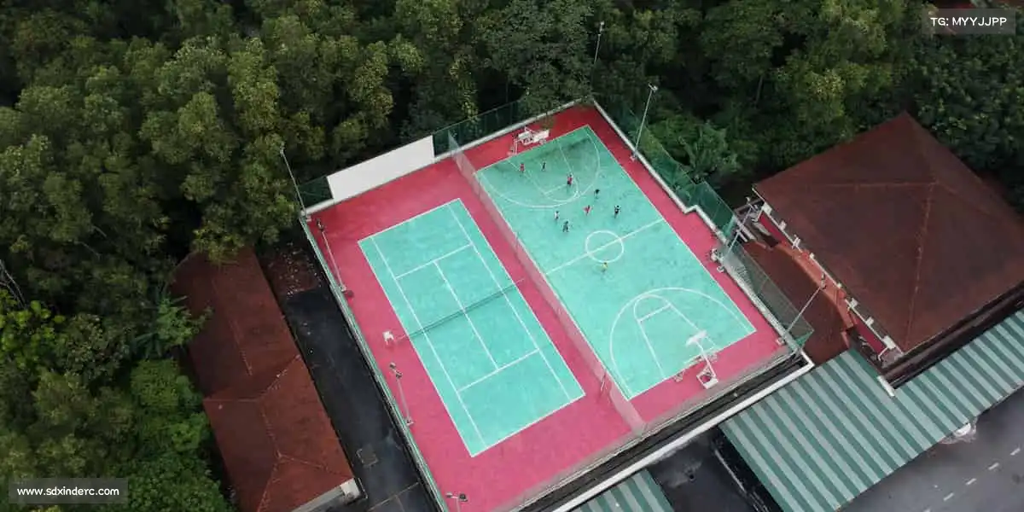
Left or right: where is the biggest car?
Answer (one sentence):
It is on the right.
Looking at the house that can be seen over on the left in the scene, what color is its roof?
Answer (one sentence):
The roof over the house that can be seen over on the left appears red.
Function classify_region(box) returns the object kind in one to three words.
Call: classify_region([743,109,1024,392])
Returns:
building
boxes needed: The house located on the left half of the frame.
[164,227,368,512]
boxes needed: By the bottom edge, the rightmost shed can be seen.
[724,313,1024,512]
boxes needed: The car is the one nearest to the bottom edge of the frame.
[949,419,971,439]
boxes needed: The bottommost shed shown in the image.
[579,472,672,512]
